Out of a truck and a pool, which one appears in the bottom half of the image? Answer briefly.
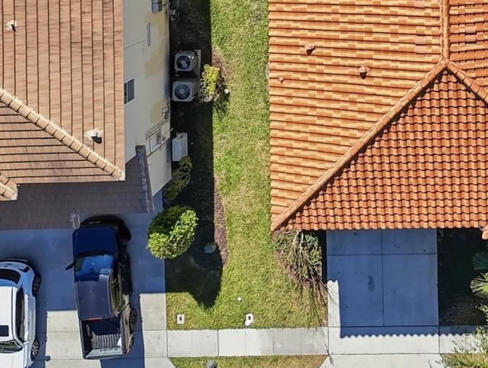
truck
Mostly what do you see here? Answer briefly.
buildings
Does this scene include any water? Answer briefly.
No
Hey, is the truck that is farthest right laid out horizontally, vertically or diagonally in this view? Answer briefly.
vertically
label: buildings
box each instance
[0,0,172,216]
[266,0,488,247]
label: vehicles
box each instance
[0,257,39,368]
[73,214,139,361]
